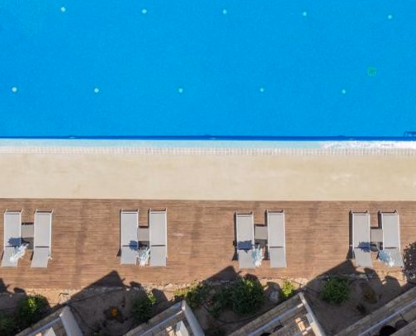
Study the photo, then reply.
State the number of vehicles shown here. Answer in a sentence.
The picture shows no vehicles.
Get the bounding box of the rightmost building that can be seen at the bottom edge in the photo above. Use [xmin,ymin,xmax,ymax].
[326,282,416,336]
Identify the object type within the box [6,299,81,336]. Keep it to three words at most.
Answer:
building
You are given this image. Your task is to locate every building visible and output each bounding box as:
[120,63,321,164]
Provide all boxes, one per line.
[218,290,321,336]
[6,299,81,336]
[326,282,416,336]
[106,293,199,336]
